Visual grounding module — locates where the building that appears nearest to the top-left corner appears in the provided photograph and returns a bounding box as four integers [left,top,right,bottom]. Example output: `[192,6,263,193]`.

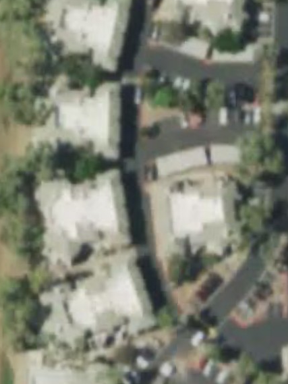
[46,0,133,71]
